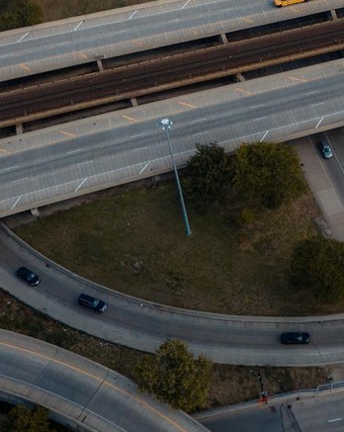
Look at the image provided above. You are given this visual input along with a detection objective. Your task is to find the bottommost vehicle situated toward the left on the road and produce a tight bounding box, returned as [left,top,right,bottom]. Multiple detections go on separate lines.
[79,294,105,312]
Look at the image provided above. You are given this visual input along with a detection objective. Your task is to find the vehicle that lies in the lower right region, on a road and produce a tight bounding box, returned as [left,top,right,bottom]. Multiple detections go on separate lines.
[280,330,310,345]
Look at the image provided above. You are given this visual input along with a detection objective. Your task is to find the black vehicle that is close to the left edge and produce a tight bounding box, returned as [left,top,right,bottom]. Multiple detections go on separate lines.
[16,266,38,285]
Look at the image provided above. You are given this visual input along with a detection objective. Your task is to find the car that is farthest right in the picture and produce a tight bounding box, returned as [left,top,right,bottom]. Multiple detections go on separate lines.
[320,140,332,158]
